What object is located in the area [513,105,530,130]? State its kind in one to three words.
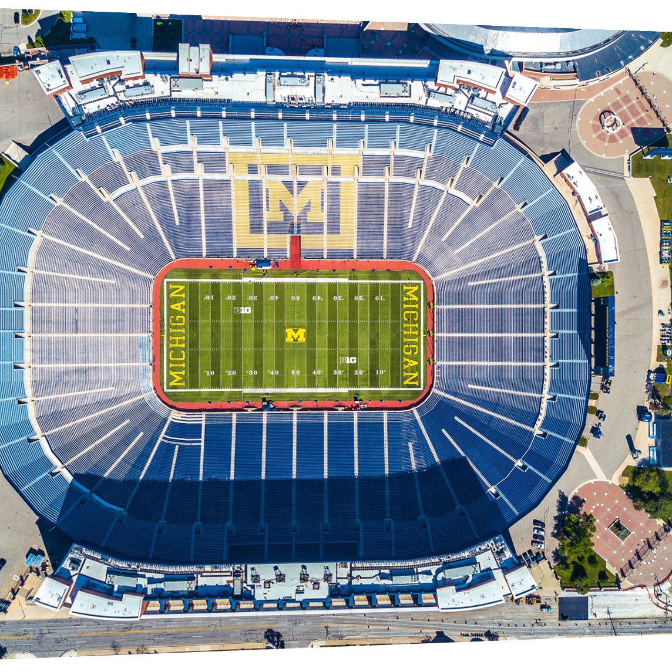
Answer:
vehicle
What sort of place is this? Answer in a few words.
sports ground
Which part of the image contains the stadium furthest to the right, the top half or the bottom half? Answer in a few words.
top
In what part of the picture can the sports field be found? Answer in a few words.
center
